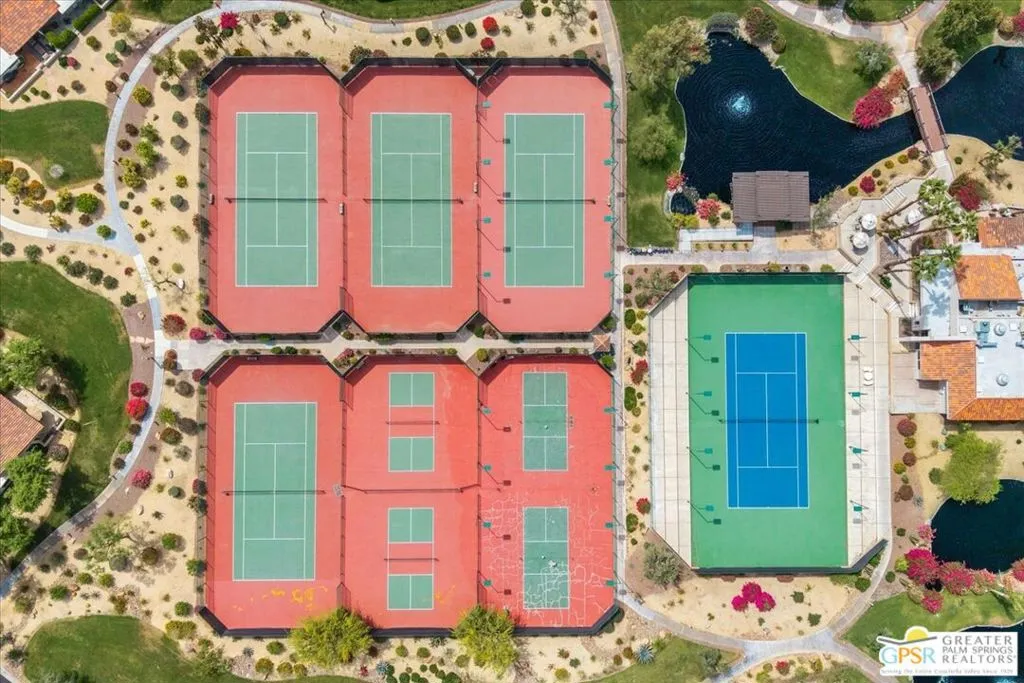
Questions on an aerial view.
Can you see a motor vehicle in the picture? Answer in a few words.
No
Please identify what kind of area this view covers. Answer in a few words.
sports ground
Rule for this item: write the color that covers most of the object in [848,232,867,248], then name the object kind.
white umbrella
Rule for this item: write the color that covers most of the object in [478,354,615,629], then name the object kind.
red sports court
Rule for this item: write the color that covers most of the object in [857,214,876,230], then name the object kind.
white umbrella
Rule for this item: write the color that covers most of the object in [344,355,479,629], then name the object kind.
red sports court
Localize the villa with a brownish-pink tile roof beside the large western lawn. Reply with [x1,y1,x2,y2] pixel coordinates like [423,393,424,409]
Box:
[0,393,44,493]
